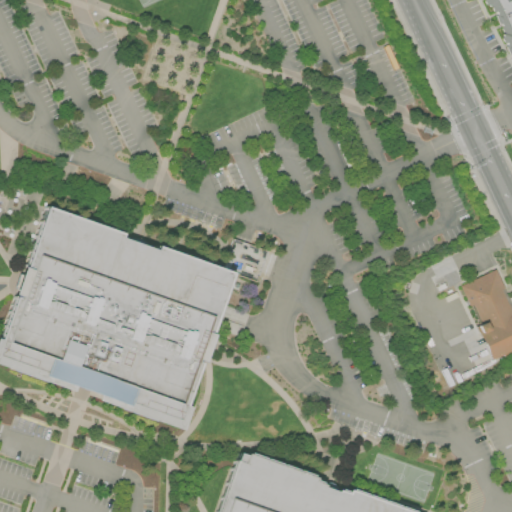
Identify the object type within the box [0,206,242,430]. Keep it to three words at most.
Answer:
building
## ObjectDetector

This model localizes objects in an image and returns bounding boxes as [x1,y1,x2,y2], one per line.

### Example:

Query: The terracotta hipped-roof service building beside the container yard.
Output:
[461,270,512,358]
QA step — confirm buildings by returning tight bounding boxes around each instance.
[216,452,426,512]
[461,270,512,358]
[0,206,242,430]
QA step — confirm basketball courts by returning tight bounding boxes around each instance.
[370,454,434,502]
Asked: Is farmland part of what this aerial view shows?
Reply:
No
